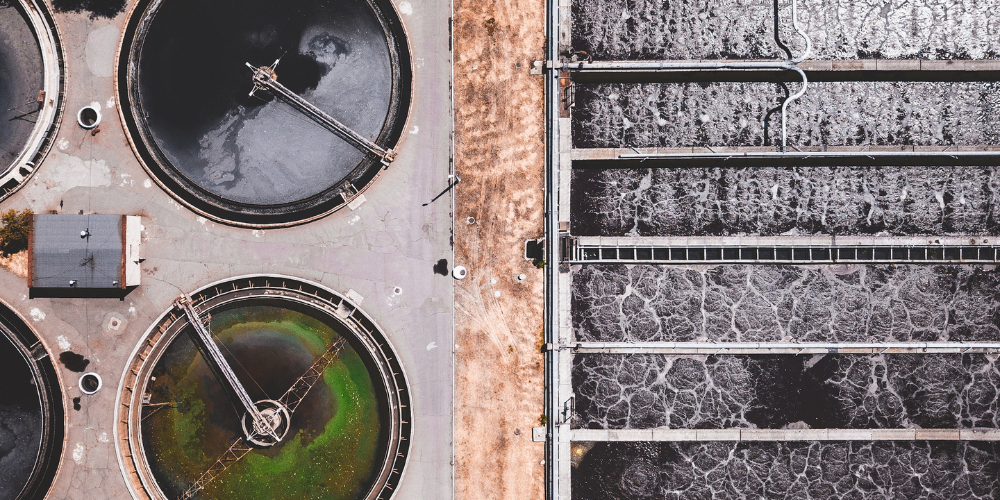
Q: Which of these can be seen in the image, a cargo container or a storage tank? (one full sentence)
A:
The one in the frame is a storage tank.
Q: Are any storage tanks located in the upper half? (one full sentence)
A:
Yes, there is a storage tank in the upper half.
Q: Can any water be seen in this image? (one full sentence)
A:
Yes, there's water in this view.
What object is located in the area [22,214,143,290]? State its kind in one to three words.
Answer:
shed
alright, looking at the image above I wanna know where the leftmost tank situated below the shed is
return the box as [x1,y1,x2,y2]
[0,300,67,500]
